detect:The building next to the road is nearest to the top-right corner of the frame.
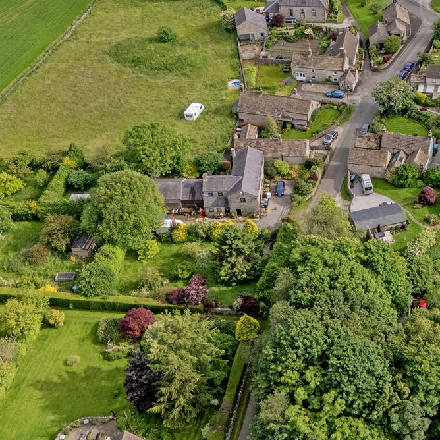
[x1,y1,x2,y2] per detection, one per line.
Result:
[368,4,415,43]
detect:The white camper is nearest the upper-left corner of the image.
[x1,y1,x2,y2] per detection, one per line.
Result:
[181,103,204,122]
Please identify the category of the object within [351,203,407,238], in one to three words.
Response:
building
